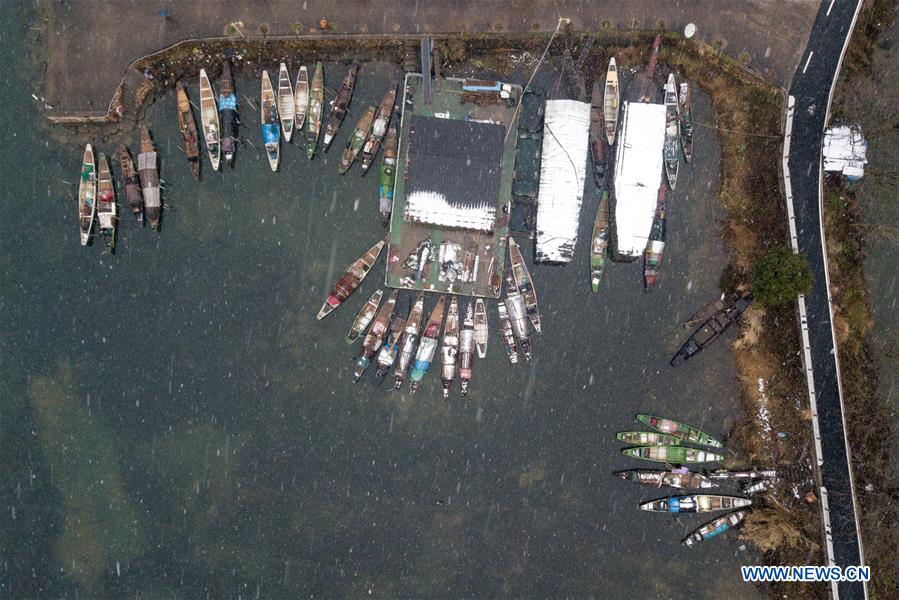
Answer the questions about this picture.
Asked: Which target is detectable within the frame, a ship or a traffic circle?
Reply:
ship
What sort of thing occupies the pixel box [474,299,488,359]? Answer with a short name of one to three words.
boat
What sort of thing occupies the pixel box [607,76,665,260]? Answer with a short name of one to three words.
ship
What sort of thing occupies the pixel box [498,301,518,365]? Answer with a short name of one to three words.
boat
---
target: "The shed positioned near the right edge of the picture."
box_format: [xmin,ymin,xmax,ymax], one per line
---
[823,124,867,182]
